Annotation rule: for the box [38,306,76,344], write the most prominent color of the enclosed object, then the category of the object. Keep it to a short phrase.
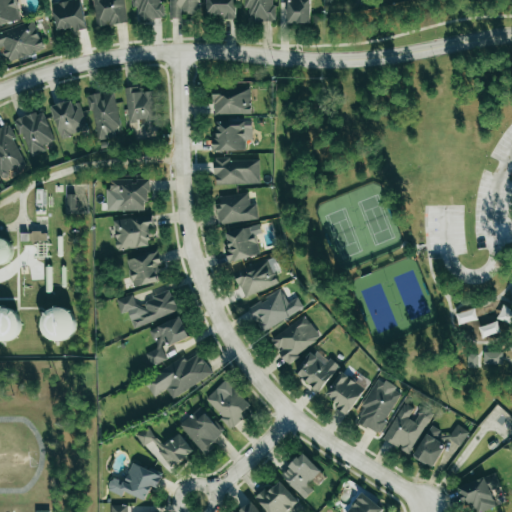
white storage tank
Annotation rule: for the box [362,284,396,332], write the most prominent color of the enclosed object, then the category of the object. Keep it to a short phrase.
blue sports court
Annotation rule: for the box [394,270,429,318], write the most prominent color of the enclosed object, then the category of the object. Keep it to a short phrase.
blue sports court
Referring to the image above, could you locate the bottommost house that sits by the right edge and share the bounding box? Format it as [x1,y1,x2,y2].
[456,479,502,512]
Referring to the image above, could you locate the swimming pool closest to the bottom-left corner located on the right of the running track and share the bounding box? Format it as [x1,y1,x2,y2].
[106,448,129,474]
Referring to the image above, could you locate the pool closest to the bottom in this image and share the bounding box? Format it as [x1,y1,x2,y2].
[336,480,358,512]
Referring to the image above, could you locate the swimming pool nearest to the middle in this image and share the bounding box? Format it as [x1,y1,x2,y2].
[258,221,274,250]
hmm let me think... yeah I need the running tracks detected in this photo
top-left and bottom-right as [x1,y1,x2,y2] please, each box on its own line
[0,417,44,494]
